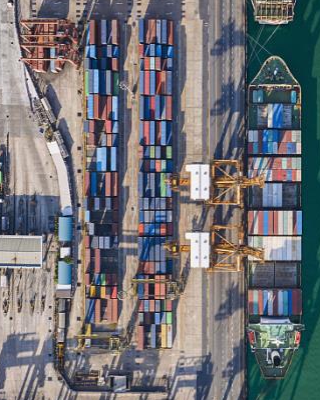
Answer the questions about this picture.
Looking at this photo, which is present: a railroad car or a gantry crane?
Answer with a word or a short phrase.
gantry crane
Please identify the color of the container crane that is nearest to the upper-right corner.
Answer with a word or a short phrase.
white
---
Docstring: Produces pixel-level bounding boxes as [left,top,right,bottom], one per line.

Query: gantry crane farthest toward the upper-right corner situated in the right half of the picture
[163,159,266,209]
